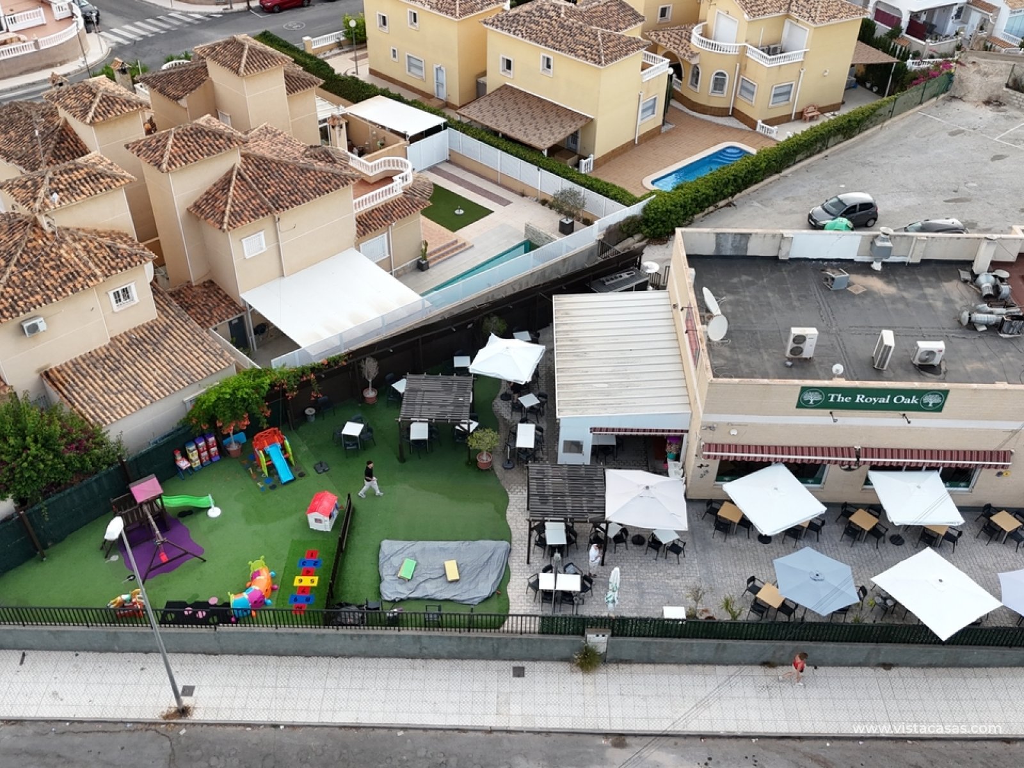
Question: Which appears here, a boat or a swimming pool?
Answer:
swimming pool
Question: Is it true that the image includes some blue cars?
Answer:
No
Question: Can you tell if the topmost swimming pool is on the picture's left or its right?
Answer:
right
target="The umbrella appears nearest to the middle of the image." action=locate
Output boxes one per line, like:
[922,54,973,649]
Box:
[469,333,545,401]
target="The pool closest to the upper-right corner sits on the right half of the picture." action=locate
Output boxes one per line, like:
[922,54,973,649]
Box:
[644,139,754,195]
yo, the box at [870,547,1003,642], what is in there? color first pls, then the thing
white umbrella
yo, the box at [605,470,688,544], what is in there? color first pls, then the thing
white umbrella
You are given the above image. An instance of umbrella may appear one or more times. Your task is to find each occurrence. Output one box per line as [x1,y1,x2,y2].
[773,547,858,623]
[469,333,545,401]
[605,470,688,544]
[868,471,964,547]
[601,567,621,619]
[870,547,1003,642]
[997,555,1024,626]
[722,464,827,546]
